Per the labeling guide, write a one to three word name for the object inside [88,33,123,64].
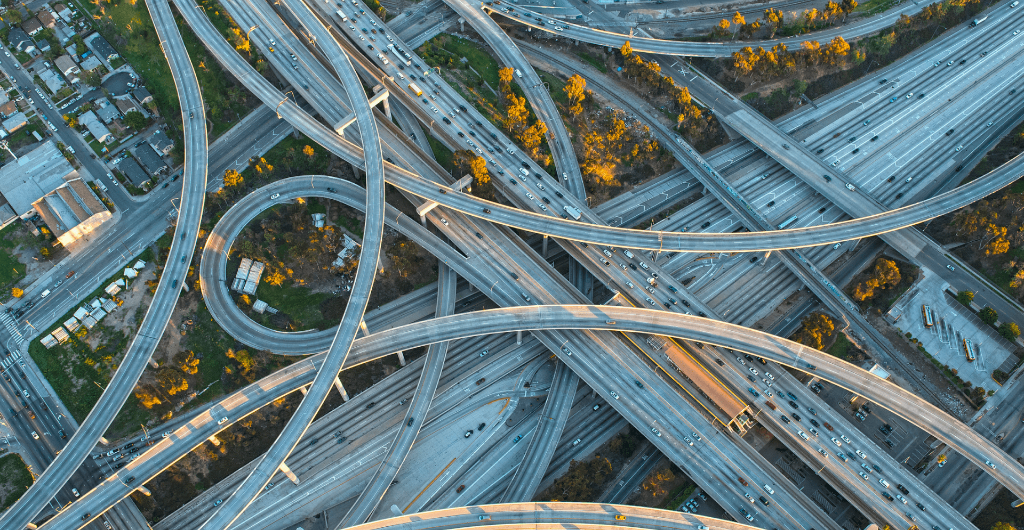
house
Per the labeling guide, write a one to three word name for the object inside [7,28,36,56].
house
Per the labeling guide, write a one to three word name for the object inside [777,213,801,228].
vehicle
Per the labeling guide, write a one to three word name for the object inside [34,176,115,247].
building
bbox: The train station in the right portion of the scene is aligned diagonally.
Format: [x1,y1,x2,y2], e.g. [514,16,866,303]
[606,291,766,447]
